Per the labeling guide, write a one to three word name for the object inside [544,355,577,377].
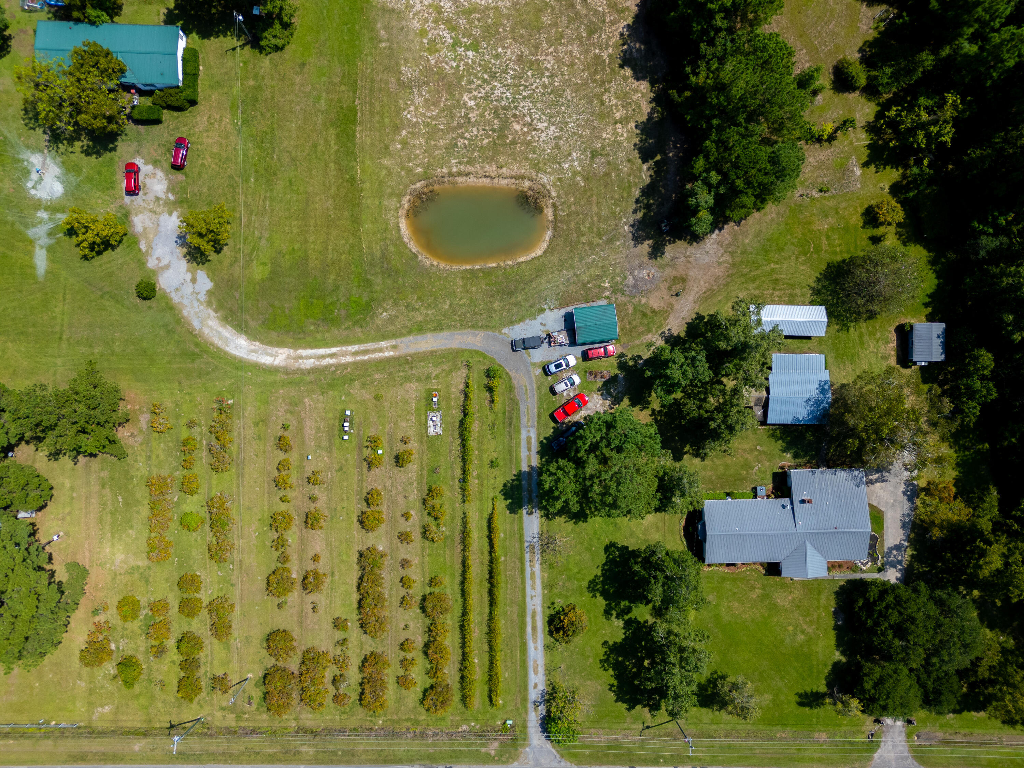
car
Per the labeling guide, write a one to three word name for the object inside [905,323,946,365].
shed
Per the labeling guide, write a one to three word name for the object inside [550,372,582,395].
car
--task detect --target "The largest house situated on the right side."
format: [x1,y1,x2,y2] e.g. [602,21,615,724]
[696,468,872,578]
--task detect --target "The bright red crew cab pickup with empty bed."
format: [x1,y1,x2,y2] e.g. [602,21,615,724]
[551,393,589,425]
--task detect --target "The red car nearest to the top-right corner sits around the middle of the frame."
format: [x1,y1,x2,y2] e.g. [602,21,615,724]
[583,344,616,362]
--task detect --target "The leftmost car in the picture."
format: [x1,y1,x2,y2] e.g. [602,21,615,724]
[124,166,142,197]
